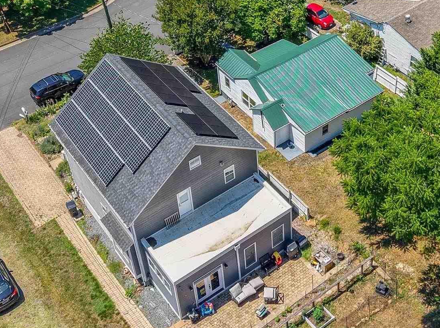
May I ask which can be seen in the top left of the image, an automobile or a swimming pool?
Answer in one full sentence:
It is an automobile that can be seen in the top left of the image.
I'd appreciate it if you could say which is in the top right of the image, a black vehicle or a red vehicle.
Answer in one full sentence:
Looking in the top right of the image, you will find a red vehicle.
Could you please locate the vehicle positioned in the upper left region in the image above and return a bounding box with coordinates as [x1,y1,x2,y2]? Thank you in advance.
[26,67,90,105]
